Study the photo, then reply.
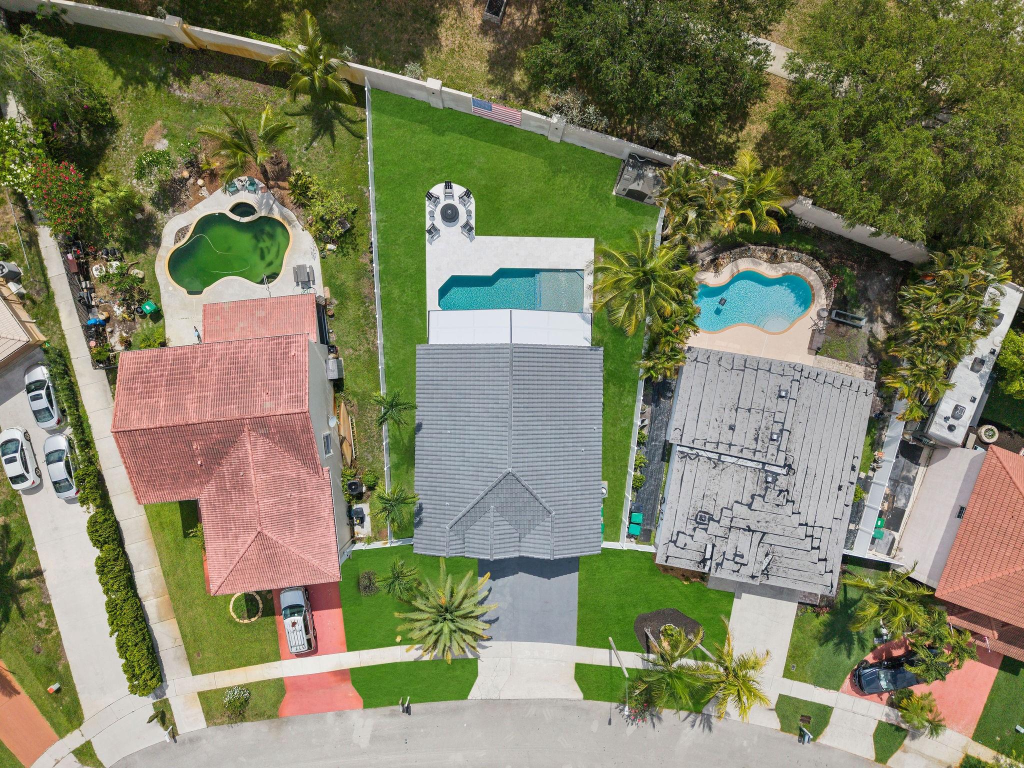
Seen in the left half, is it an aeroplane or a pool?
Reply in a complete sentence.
The one visible in the left half is a pool.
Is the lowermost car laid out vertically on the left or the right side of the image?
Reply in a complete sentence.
It is on the left.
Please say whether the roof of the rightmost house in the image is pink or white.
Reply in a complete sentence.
From above, the roof of the rightmost house appears pink.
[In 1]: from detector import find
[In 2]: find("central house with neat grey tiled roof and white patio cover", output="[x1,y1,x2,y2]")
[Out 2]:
[413,343,604,561]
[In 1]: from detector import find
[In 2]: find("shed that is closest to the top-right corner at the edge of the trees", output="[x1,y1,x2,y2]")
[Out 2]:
[608,158,661,209]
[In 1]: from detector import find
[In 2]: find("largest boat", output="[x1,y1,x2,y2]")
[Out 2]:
[339,403,353,465]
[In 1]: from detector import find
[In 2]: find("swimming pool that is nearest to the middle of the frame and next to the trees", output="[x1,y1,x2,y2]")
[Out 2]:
[439,268,584,312]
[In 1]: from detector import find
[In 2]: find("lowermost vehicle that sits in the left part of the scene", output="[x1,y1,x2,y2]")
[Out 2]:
[276,585,315,659]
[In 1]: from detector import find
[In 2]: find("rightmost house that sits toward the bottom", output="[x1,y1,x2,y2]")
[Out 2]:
[893,444,1024,660]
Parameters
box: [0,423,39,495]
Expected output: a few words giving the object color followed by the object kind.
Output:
white car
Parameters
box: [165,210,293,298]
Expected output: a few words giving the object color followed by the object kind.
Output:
green swimming pool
